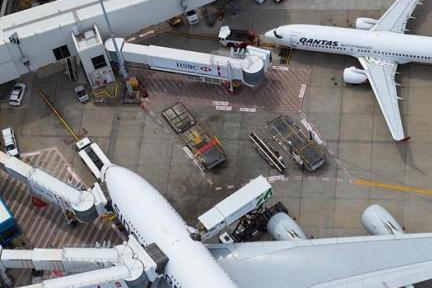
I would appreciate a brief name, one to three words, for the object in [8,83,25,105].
car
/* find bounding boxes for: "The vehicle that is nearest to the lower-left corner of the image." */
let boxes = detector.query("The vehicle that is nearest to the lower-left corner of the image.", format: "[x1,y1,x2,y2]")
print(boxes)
[0,203,22,248]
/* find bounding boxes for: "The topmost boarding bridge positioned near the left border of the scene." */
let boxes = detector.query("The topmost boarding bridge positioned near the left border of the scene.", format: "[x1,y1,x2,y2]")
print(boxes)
[0,145,110,231]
